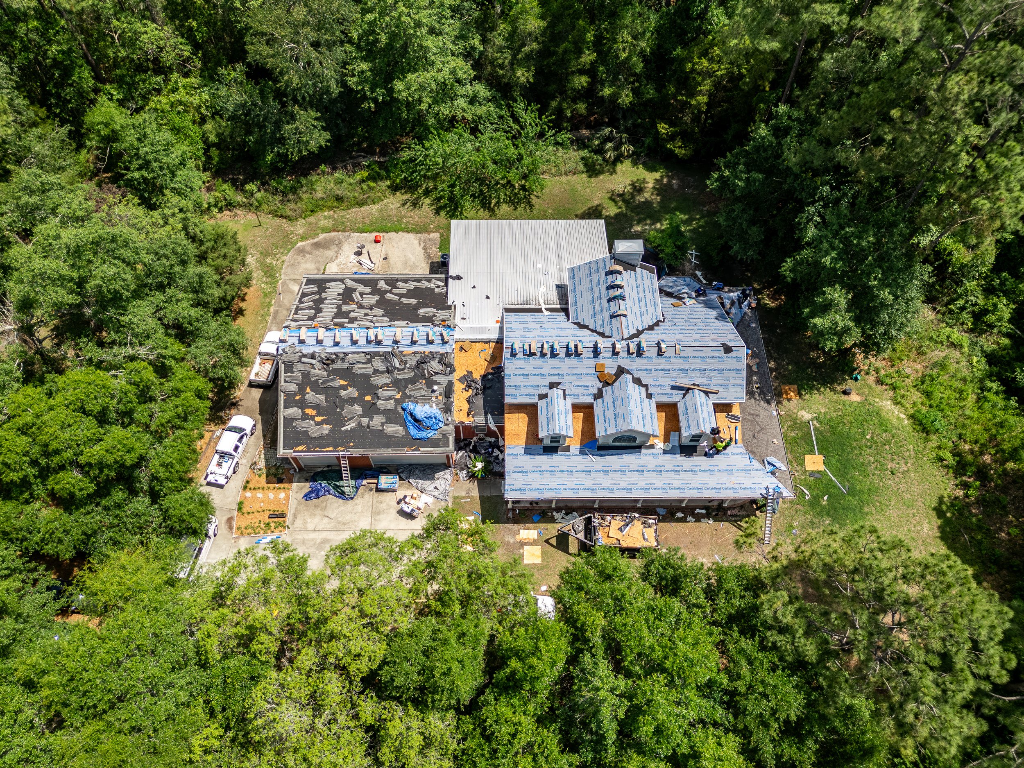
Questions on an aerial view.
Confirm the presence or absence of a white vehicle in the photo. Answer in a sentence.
Yes, I can see a white vehicle in this picture.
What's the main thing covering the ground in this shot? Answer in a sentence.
The largest share of the image is taken up by trees.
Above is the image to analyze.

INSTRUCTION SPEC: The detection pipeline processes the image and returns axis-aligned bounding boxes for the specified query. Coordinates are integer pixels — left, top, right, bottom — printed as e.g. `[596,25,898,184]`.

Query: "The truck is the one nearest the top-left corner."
[250,333,281,390]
